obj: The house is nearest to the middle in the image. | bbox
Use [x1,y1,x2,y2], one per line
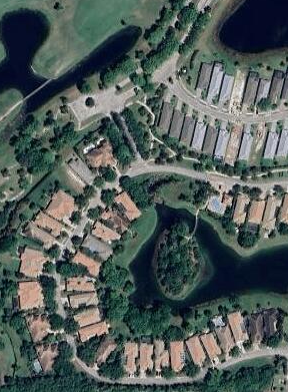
[114,192,141,221]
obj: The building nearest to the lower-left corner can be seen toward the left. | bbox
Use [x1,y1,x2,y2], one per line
[40,344,59,367]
